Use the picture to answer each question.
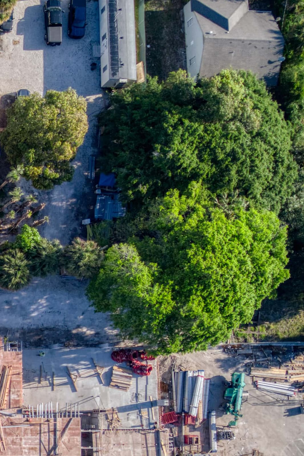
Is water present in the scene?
No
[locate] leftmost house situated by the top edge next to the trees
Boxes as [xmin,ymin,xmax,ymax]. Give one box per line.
[95,0,137,92]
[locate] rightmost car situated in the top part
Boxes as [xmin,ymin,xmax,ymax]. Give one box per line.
[67,0,87,39]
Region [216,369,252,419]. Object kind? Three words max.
work vehicle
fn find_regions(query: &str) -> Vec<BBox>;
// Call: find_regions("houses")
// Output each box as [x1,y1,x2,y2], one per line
[95,0,137,92]
[185,0,292,88]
